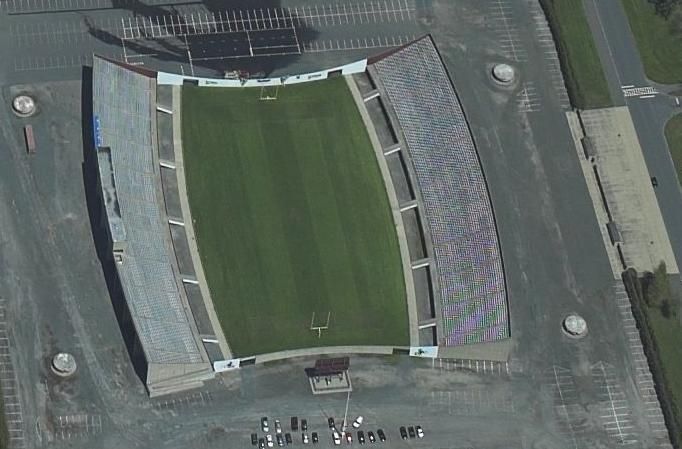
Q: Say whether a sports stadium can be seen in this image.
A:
Yes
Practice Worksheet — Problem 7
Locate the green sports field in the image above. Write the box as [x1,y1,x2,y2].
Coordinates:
[172,74,420,371]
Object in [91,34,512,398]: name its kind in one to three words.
stadium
